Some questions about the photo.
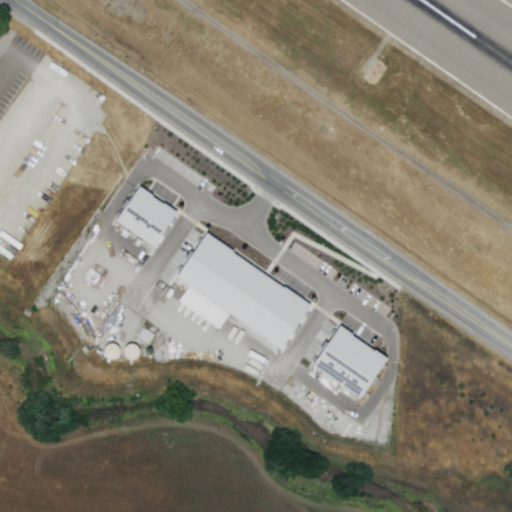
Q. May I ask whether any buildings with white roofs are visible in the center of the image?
Yes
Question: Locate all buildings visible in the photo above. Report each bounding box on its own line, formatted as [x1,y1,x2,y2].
[138,328,155,345]
[176,232,314,352]
[314,325,390,399]
[117,184,178,246]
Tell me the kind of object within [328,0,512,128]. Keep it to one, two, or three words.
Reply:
runway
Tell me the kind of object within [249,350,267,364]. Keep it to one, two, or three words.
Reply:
vehicle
